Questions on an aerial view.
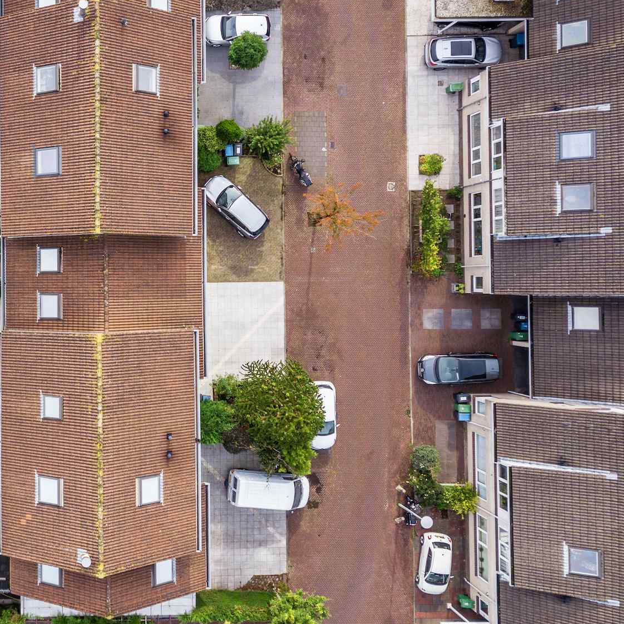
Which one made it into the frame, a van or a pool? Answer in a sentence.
I can see a van in this picture.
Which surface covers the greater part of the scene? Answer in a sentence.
What you mostly see from above here is buildings.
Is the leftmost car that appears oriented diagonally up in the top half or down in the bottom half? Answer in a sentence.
The leftmost car that appears oriented diagonally is in the top half of the image.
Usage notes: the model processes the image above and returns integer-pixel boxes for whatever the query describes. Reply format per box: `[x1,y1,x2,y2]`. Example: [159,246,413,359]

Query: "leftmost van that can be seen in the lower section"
[225,467,305,511]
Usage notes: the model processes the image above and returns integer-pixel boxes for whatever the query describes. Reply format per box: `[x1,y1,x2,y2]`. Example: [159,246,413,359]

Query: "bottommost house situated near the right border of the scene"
[468,394,624,624]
